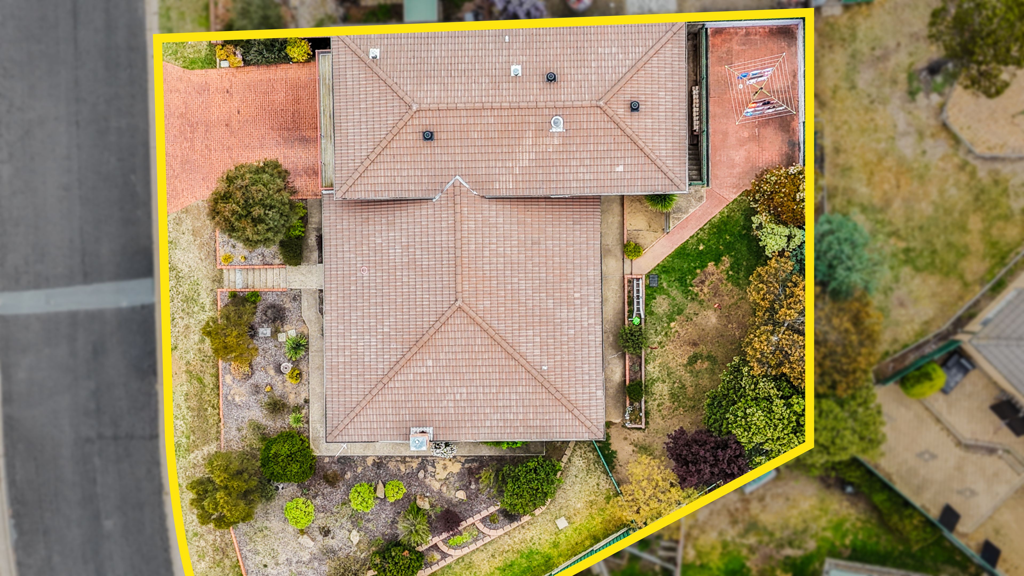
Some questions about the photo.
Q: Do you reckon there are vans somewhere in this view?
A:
No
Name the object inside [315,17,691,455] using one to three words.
house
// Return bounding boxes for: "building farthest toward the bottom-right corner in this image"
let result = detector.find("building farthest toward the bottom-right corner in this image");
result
[949,257,1024,415]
